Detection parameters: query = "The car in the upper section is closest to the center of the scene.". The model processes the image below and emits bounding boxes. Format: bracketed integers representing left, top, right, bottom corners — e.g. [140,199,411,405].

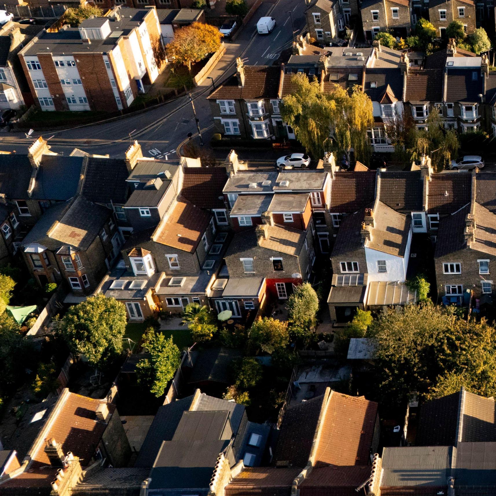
[277,151,313,168]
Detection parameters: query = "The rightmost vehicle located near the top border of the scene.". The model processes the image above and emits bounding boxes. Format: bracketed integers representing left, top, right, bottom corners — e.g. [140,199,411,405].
[257,15,276,33]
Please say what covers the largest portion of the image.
buildings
